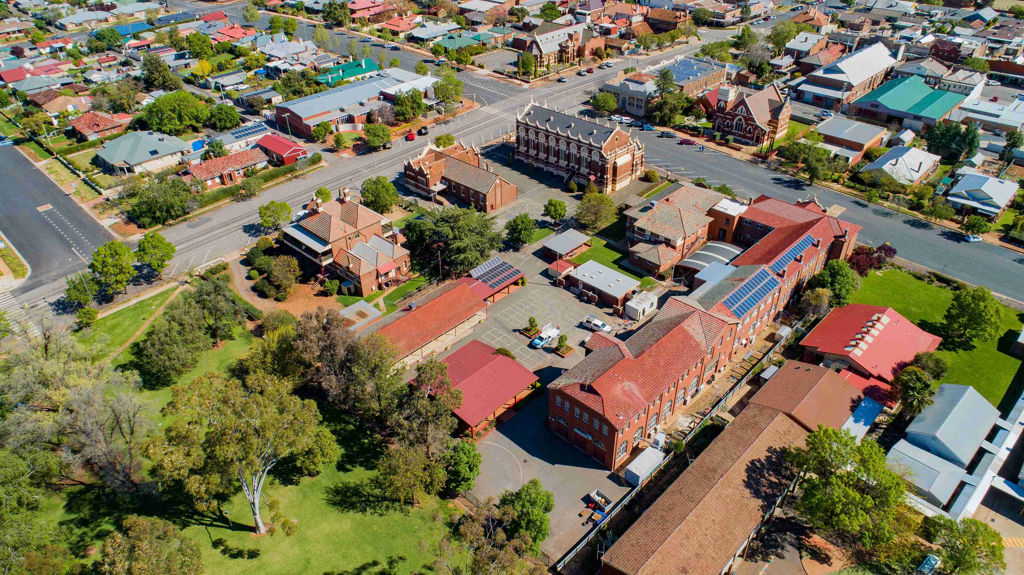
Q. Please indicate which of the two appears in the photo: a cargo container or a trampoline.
cargo container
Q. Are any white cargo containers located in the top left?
No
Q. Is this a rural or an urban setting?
urban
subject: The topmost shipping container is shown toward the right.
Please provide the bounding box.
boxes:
[626,447,663,486]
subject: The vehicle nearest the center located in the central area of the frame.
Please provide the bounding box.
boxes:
[534,326,558,346]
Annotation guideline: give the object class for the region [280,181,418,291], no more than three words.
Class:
house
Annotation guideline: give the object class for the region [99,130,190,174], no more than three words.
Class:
house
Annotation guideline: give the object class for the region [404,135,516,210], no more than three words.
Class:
building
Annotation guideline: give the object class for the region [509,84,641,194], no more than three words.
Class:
building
